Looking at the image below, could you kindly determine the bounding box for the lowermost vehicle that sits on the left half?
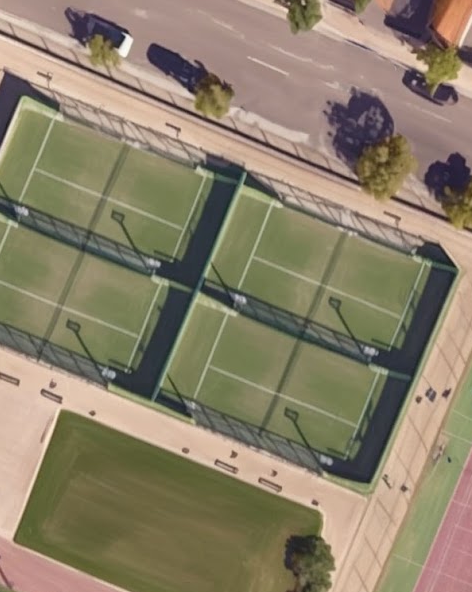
[145,47,203,88]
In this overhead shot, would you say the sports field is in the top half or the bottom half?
bottom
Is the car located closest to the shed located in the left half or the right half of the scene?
right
